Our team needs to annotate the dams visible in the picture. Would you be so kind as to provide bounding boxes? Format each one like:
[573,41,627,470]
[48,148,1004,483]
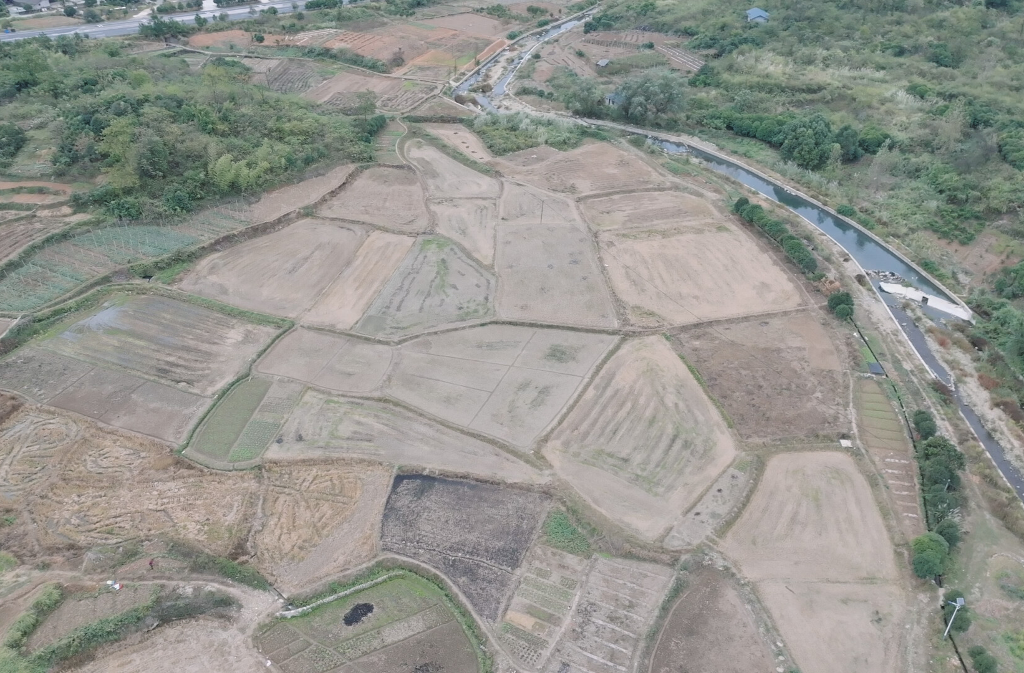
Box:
[879,283,967,320]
